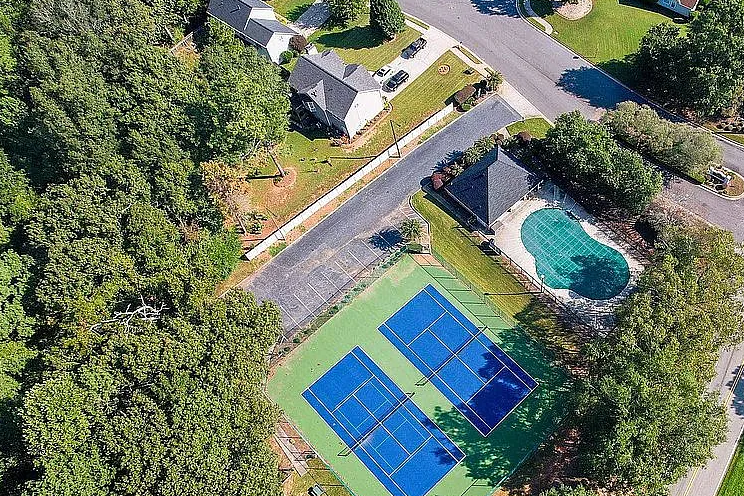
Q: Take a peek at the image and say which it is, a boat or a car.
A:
car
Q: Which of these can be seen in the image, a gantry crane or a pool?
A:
pool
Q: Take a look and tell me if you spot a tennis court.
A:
Yes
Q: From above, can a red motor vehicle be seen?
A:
No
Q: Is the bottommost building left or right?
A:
right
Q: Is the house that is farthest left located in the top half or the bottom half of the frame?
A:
top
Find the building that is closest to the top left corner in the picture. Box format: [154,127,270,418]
[206,0,298,64]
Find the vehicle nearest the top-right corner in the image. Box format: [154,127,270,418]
[399,35,428,57]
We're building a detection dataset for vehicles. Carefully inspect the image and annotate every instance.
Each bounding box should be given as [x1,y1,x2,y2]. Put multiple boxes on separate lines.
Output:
[372,62,394,81]
[382,68,409,90]
[399,35,428,57]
